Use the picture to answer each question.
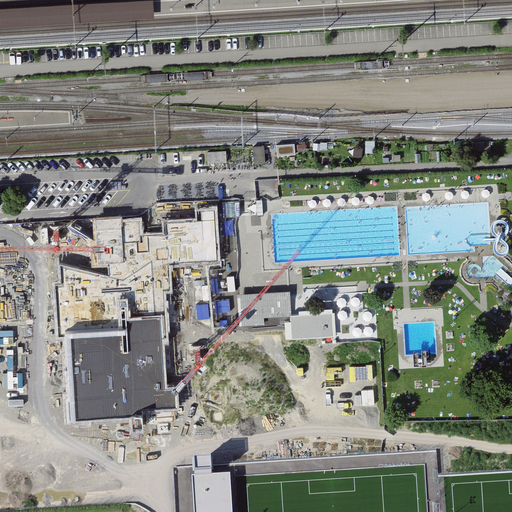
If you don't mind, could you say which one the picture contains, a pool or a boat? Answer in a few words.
pool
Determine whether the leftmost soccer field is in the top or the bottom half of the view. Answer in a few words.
bottom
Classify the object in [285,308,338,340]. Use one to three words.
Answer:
building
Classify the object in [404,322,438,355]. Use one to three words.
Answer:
swimming pool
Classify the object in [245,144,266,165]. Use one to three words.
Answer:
shed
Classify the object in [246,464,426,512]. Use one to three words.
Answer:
soccer field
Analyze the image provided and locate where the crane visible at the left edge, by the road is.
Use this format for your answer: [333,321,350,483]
[0,226,114,256]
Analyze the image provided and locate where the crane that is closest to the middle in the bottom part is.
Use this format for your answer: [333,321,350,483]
[172,248,302,394]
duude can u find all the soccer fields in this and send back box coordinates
[246,464,426,512]
[444,473,512,512]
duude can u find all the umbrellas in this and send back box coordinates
[480,188,490,198]
[460,190,470,200]
[422,192,431,202]
[362,326,374,336]
[337,310,348,320]
[362,310,373,322]
[352,326,362,338]
[350,296,361,307]
[365,196,374,205]
[308,198,317,208]
[351,196,360,206]
[337,198,346,206]
[322,198,332,208]
[336,296,348,308]
[444,190,454,200]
